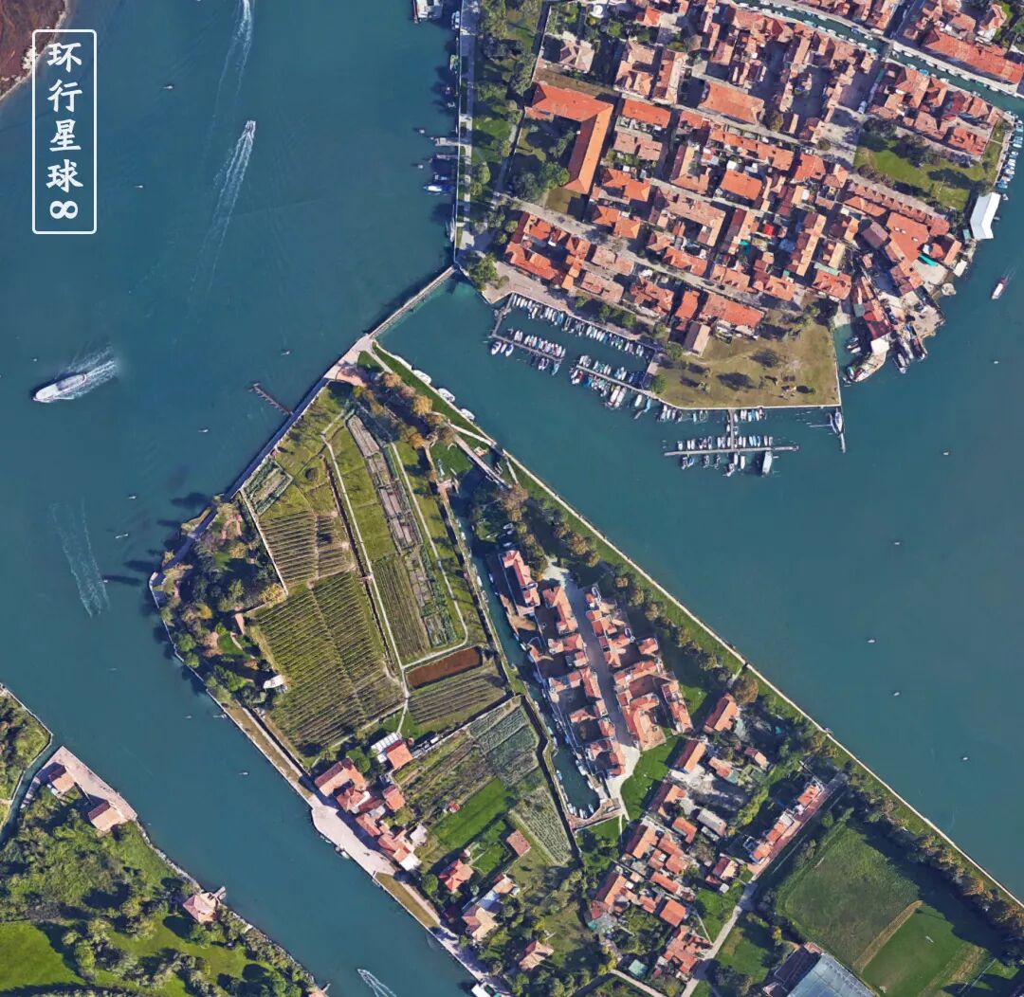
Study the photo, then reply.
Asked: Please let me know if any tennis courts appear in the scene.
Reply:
No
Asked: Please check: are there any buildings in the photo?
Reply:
Yes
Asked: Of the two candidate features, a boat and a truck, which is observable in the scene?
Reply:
boat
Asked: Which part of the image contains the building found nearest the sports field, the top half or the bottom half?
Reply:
bottom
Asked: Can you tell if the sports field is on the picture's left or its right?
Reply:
right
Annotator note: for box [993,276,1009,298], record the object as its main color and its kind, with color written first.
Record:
white vessel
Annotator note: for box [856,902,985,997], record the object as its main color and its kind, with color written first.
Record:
green sports field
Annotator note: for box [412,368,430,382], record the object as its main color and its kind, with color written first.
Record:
white boat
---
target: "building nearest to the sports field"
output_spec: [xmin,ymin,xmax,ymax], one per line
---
[788,954,876,997]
